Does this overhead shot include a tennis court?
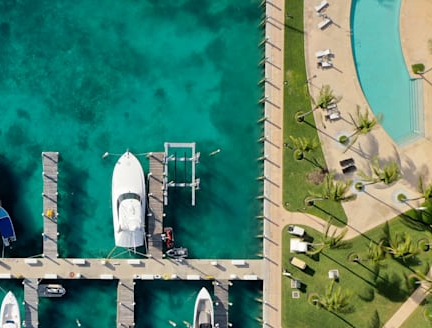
No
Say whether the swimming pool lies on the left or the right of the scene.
right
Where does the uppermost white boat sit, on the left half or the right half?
left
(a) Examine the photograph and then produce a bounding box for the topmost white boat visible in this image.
[110,146,146,250]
